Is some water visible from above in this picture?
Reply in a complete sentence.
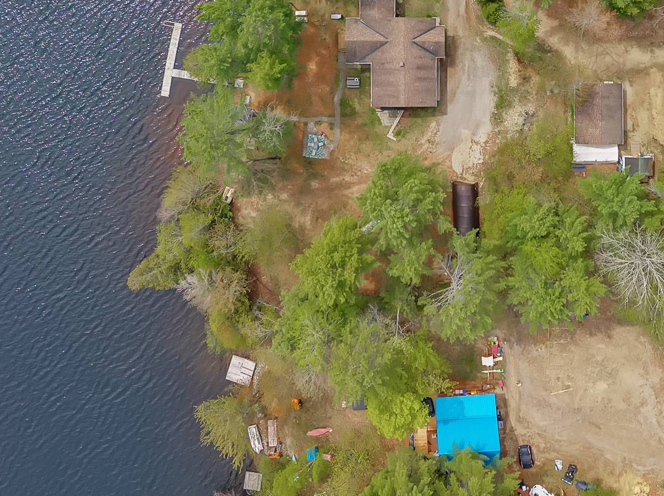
Yes, some water is visible.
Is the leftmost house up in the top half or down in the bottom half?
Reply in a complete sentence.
You can find the leftmost house in the top half.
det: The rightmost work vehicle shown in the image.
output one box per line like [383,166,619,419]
[560,466,577,487]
